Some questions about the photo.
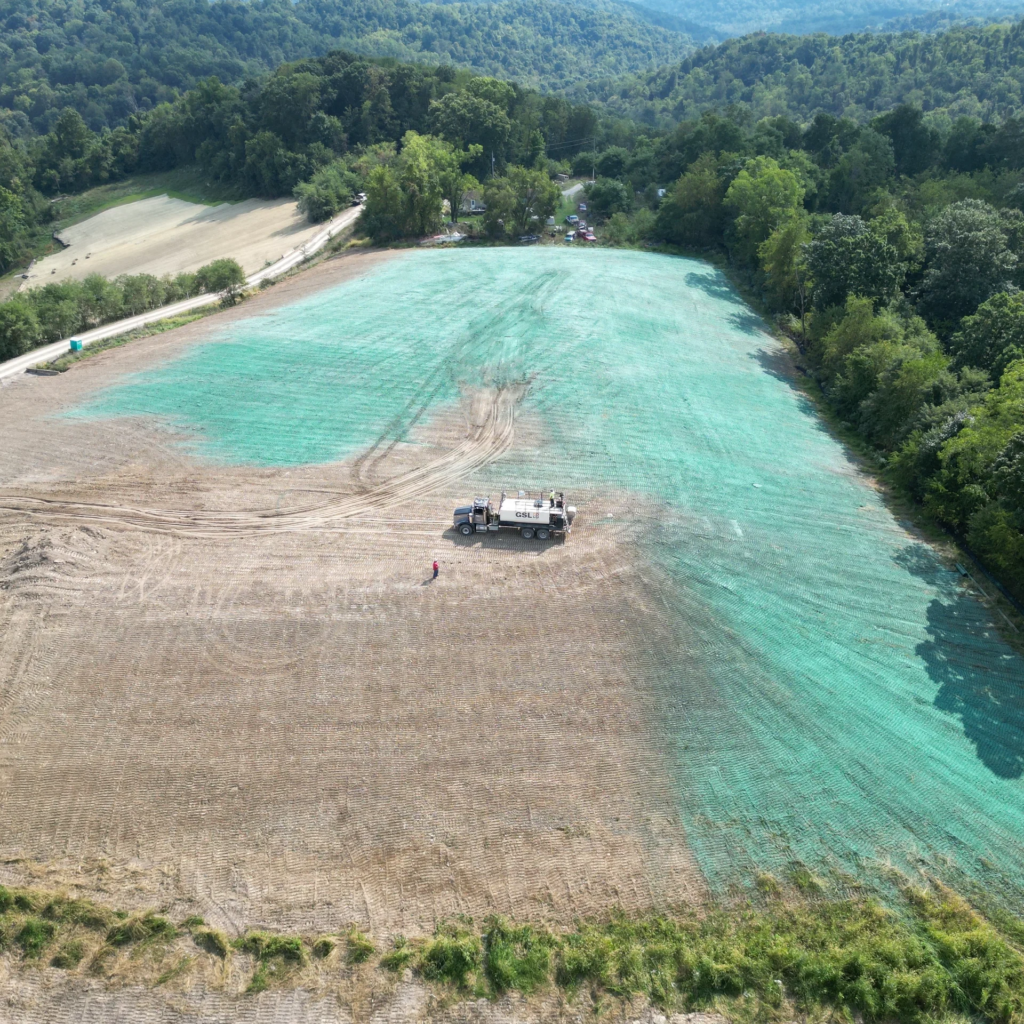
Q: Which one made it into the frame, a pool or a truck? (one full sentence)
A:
It is a truck that can be seen here.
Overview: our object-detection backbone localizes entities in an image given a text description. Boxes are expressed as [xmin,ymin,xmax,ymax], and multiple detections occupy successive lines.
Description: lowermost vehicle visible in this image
[451,484,578,539]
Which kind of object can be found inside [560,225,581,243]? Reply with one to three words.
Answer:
vehicle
